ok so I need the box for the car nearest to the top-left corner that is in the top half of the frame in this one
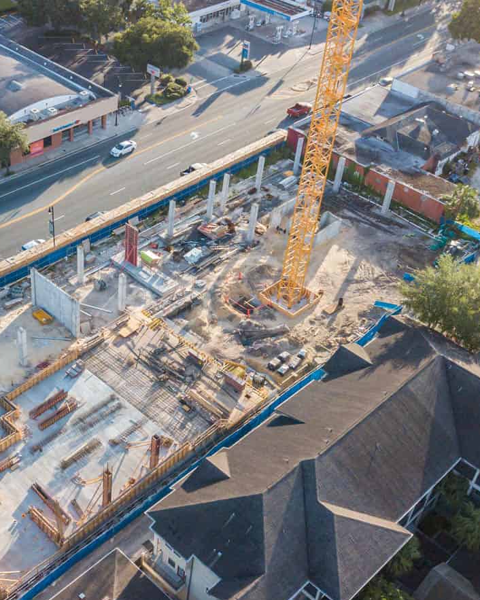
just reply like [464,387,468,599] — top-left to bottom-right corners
[108,140,138,157]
